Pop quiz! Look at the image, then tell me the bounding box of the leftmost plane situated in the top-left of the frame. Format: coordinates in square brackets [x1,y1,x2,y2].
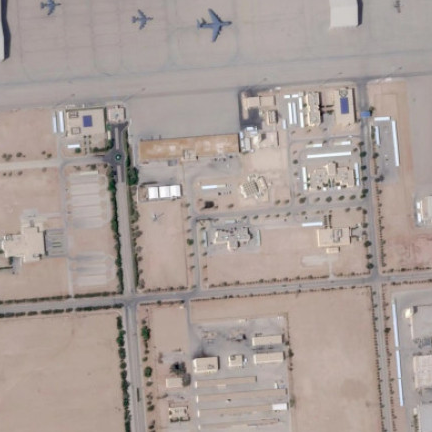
[40,0,60,15]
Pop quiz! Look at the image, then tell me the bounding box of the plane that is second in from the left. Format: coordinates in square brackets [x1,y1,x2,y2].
[132,9,152,29]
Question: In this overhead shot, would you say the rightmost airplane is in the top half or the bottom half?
top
